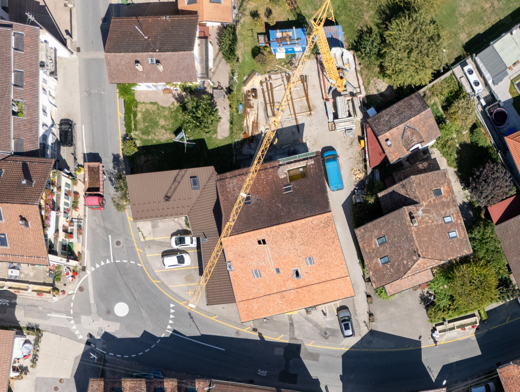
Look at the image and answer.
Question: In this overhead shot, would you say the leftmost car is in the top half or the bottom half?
top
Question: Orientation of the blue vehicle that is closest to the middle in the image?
from top to bottom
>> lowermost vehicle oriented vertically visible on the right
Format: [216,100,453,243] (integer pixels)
[337,307,356,340]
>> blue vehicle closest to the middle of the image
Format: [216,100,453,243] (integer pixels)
[323,149,344,193]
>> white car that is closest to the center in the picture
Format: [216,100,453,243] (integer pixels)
[171,234,198,249]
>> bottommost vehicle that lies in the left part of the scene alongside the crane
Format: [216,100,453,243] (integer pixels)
[161,253,193,269]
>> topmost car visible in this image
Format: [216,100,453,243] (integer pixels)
[57,118,76,149]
